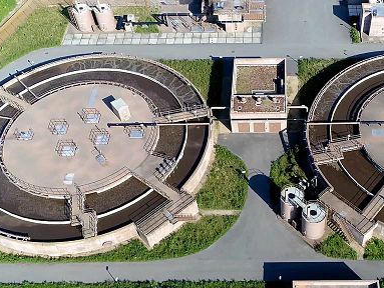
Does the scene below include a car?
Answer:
No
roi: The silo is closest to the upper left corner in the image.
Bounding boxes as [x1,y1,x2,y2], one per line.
[72,0,98,30]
